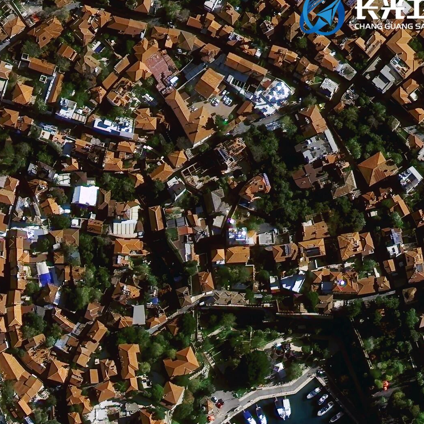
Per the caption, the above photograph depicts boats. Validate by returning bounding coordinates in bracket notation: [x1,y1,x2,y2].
[273,399,286,419]
[283,399,292,416]
[255,406,267,424]
[320,394,328,405]
[330,411,343,422]
[243,410,256,424]
[308,386,323,397]
[319,400,335,415]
